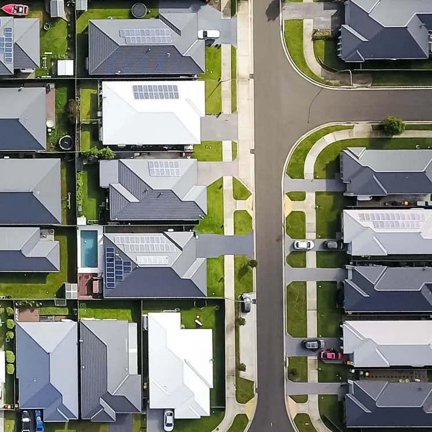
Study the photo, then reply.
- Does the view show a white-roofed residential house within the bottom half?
Yes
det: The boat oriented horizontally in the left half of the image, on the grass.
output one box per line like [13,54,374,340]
[0,3,31,16]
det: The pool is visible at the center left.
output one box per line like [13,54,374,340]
[79,230,99,269]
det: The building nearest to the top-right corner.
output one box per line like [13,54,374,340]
[330,0,432,62]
